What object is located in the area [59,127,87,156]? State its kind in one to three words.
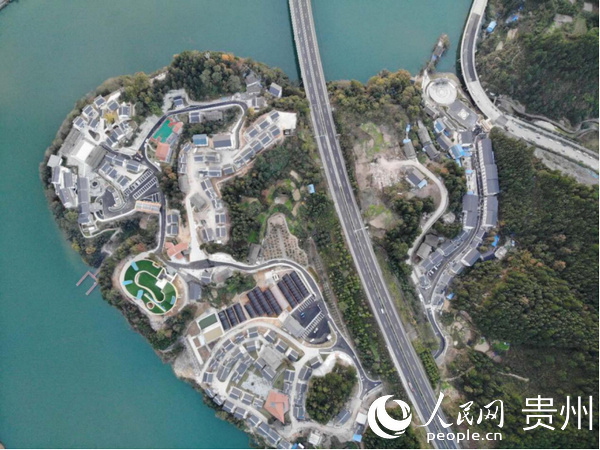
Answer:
building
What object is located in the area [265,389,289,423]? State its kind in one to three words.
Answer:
building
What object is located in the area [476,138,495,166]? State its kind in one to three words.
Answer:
house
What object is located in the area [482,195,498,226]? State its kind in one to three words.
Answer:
house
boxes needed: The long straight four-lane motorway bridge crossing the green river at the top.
[289,0,327,94]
